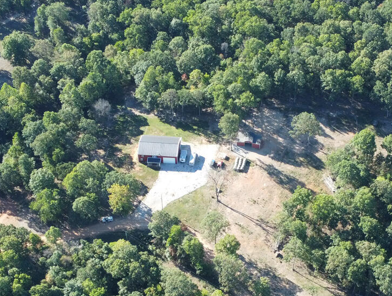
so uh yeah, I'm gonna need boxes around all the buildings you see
[236,130,264,149]
[136,135,182,171]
